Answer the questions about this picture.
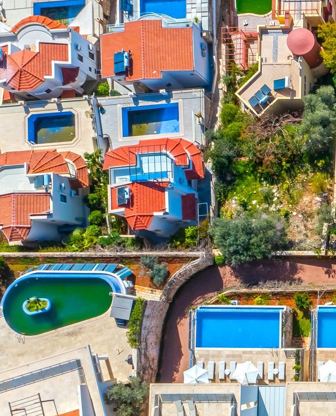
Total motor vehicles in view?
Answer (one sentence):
I count no motor vehicles.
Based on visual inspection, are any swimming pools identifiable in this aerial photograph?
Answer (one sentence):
Yes, the frame does contain a swimming pool.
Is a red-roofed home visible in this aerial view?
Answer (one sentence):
Yes, a red-roofed home is visible in the scene.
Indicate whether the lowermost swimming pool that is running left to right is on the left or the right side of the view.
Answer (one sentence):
The lowermost swimming pool that is running left to right appears in the right half of the scene.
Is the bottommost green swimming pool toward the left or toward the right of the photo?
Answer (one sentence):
The bottommost green swimming pool sits on the left side.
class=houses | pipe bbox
[0,14,95,101]
[100,11,211,93]
[0,345,128,416]
[102,137,206,234]
[286,378,336,416]
[0,150,90,246]
[150,379,259,416]
[235,0,336,123]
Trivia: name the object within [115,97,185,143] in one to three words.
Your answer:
swimming pool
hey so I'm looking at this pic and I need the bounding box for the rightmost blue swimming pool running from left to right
[193,305,292,350]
